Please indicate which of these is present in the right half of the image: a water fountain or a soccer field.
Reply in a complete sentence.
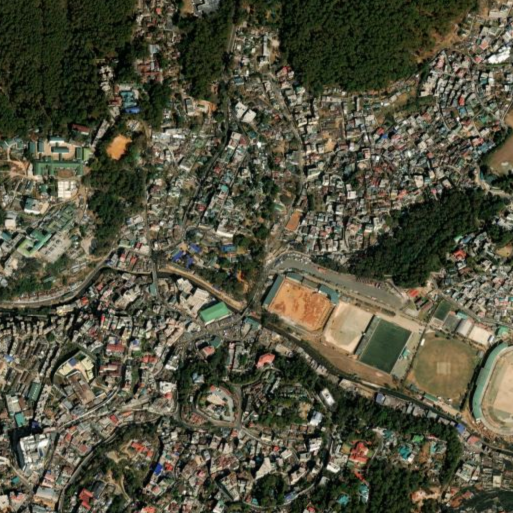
The feature located in the right half of the image is a soccer field.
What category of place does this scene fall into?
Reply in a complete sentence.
What you see here is a residential area.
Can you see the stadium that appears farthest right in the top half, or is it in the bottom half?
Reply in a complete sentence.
You can find the stadium that appears farthest right in the bottom half.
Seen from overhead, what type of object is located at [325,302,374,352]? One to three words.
sports field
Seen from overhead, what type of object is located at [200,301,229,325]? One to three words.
building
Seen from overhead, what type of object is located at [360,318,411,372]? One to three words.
soccer field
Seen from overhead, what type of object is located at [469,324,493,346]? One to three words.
building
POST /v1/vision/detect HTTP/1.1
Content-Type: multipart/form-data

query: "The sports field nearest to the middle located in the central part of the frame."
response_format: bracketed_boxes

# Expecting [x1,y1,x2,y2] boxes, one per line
[268,278,333,330]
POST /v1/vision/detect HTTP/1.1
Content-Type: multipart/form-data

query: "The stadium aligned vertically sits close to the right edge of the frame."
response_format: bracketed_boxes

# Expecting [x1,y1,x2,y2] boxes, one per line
[458,324,513,438]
